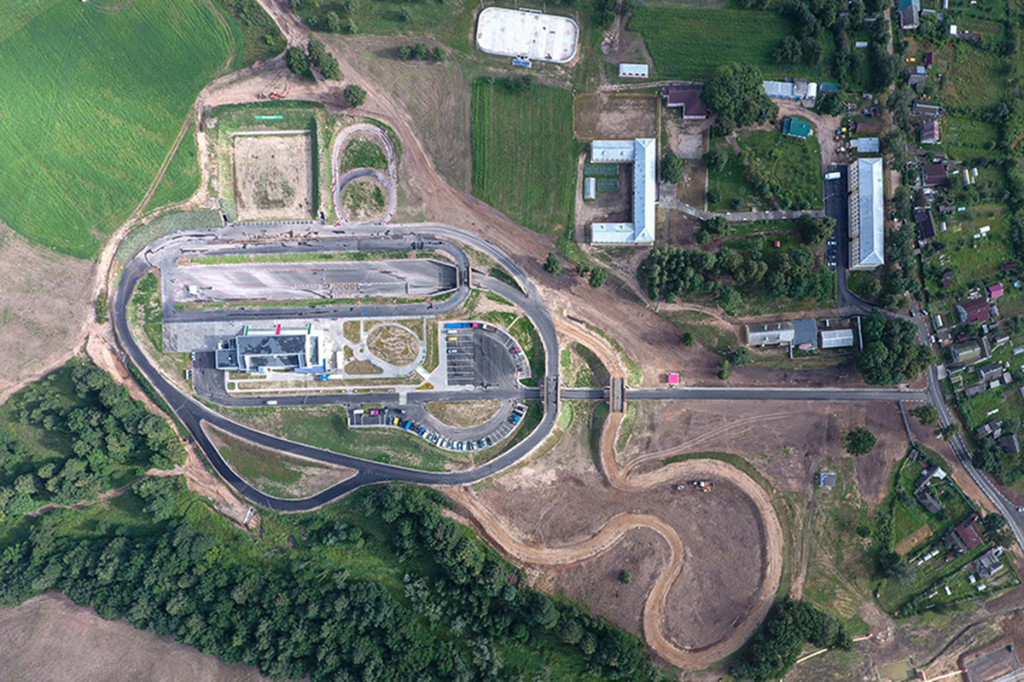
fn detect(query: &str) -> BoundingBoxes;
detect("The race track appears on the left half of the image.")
[115,221,559,513]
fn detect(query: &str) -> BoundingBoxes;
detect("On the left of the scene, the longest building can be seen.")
[215,325,328,373]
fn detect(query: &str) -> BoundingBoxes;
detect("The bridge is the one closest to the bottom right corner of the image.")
[607,377,627,414]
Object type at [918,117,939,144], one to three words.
house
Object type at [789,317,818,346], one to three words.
building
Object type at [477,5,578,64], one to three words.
sports court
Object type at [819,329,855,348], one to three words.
barn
